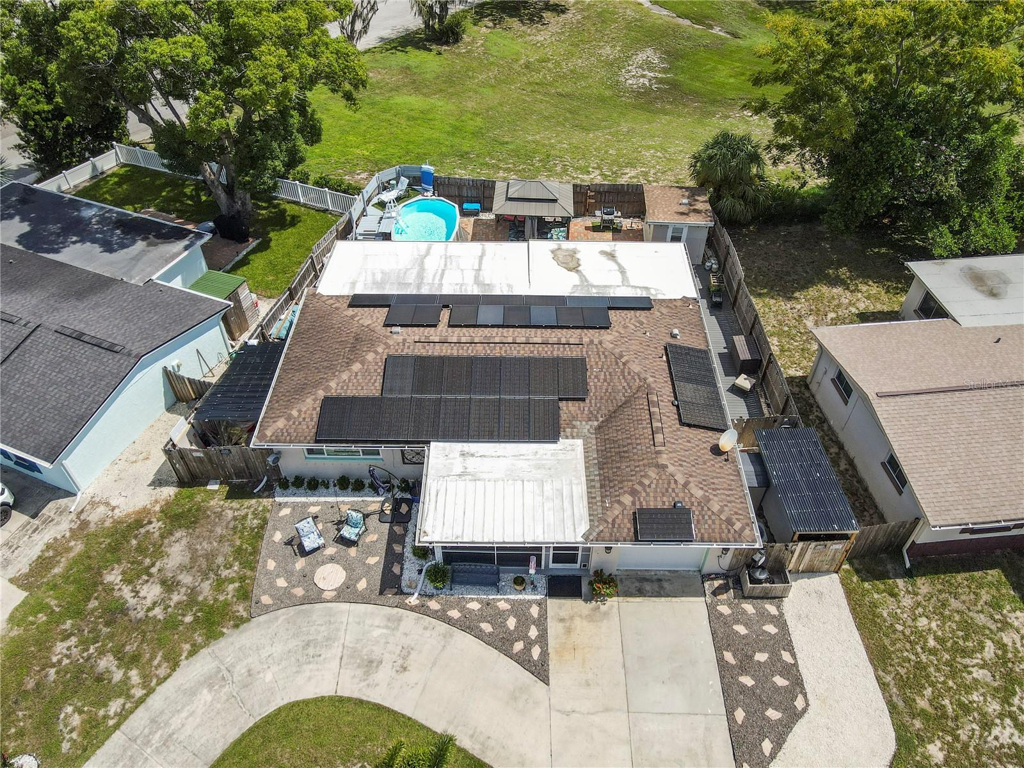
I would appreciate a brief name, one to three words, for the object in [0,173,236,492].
house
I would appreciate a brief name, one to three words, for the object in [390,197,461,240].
swimming pool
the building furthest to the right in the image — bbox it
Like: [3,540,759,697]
[809,255,1024,556]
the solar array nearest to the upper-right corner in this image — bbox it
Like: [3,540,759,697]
[663,338,728,429]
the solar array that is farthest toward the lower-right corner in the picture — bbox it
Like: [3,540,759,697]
[636,509,696,542]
